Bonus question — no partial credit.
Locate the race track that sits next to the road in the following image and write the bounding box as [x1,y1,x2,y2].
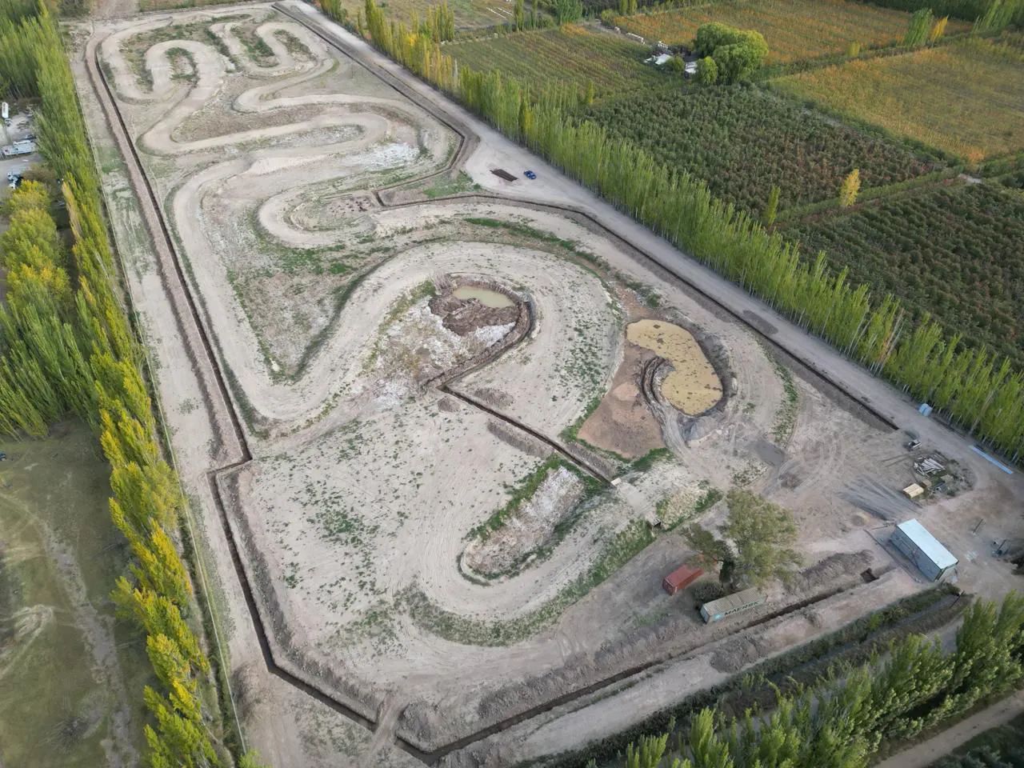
[99,2,785,627]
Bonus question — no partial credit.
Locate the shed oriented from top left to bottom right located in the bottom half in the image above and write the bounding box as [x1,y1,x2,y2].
[890,519,959,581]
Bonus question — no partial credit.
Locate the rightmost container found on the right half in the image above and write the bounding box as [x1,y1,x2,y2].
[702,581,768,620]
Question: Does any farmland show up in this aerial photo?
Yes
